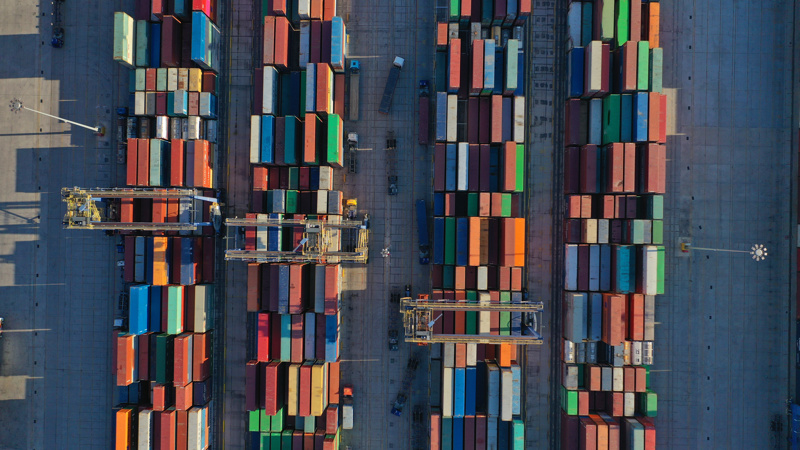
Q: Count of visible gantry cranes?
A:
three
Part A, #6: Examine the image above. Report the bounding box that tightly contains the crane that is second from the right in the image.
[223,207,374,266]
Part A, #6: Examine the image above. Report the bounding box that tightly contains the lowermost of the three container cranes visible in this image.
[396,280,544,348]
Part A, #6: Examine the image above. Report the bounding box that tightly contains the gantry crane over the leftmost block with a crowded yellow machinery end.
[56,184,227,240]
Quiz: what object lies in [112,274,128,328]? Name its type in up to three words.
vehicle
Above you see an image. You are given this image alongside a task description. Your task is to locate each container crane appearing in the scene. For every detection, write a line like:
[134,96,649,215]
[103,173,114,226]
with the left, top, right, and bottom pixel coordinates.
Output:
[223,207,374,266]
[56,184,227,240]
[396,280,544,348]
